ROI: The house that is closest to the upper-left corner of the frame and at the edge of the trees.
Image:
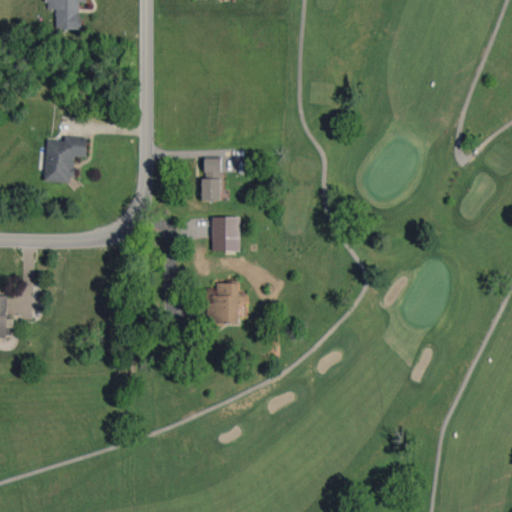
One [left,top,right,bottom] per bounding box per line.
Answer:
[44,0,85,33]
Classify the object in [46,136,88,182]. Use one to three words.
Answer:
house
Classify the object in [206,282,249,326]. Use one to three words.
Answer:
house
